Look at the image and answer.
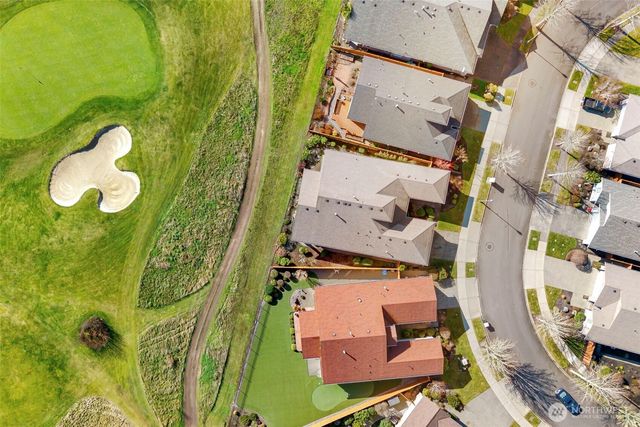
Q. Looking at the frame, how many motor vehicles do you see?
2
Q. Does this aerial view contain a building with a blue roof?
No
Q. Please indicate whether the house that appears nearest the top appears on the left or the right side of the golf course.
right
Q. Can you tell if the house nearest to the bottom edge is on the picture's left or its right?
right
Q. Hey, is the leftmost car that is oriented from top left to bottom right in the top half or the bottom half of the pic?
bottom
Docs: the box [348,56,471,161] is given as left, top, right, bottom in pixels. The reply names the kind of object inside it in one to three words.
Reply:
house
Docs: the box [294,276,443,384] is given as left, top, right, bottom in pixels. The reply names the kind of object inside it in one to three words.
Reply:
house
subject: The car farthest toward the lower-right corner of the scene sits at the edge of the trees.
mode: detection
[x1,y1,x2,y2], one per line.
[554,388,584,419]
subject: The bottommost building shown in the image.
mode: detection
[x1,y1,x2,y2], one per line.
[391,393,462,427]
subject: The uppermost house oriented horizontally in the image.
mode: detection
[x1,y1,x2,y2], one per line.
[346,0,508,78]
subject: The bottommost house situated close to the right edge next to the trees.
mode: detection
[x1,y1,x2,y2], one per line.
[581,263,640,354]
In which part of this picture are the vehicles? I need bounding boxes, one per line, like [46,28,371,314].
[554,388,584,419]
[581,94,622,119]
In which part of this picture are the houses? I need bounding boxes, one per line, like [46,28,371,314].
[346,0,508,78]
[599,94,640,179]
[291,149,451,266]
[348,56,471,161]
[391,393,462,427]
[584,178,640,263]
[581,263,640,354]
[294,276,443,384]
